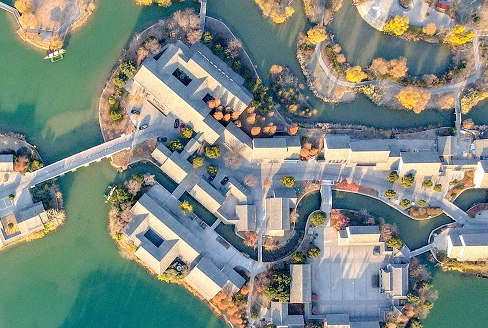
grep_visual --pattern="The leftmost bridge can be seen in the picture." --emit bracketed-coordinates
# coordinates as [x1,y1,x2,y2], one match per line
[17,133,138,192]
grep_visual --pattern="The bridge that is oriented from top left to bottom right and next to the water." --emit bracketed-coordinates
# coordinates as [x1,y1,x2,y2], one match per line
[436,194,475,226]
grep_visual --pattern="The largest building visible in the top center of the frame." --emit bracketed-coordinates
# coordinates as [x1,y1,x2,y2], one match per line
[135,29,255,141]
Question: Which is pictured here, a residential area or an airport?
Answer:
residential area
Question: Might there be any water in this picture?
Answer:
Yes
